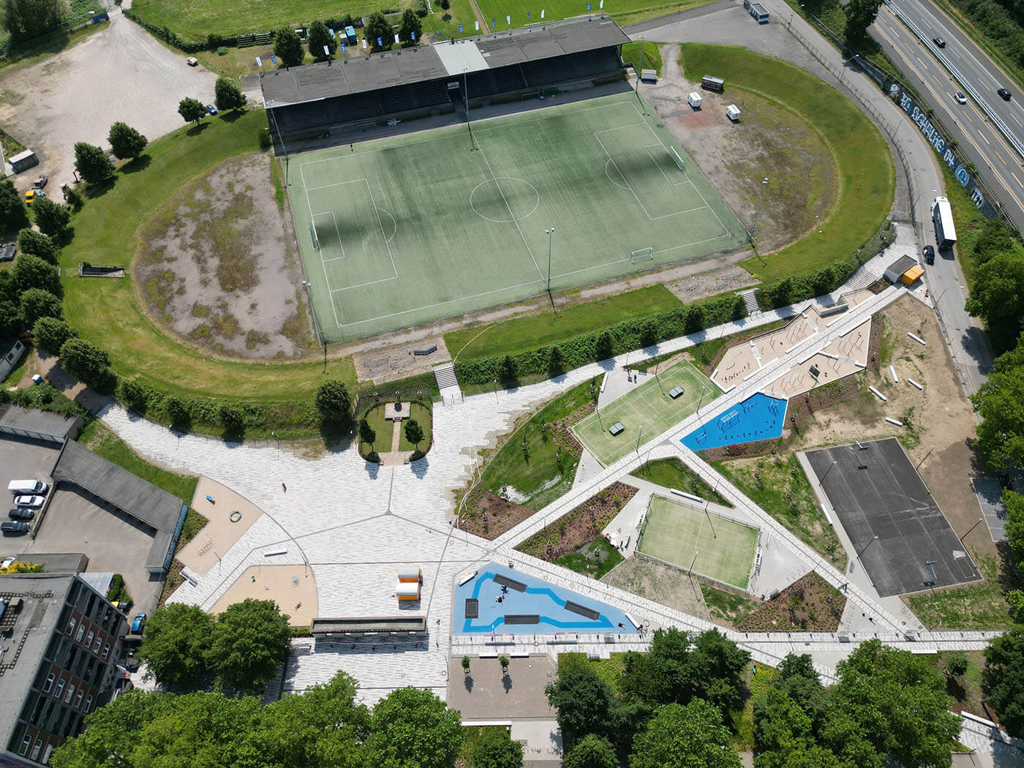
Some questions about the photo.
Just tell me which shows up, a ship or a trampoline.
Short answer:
trampoline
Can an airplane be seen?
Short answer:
No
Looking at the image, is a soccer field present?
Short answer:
Yes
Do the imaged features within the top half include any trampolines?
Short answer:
No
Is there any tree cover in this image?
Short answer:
Yes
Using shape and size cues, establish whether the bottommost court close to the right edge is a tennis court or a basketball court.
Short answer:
basketball court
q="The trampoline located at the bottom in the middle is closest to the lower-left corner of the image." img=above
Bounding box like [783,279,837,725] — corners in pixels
[465,598,479,619]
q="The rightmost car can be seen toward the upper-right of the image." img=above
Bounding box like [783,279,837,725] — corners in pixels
[998,88,1015,100]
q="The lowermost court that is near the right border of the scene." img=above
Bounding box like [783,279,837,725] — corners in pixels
[796,437,986,598]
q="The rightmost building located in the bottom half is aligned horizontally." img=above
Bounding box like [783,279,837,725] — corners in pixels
[311,616,426,637]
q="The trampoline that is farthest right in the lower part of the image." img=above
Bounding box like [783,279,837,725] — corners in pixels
[564,600,600,621]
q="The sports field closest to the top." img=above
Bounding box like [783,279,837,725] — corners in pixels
[477,0,707,32]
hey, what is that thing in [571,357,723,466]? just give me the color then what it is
green tennis court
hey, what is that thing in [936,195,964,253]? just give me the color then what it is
white truck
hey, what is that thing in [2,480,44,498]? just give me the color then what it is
white vehicle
